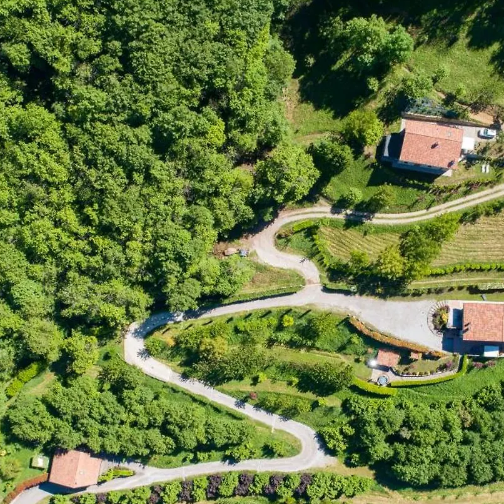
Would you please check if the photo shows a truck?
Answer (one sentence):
No, the picture doesn't show any truck.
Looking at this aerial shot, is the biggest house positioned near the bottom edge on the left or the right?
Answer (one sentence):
The biggest house positioned near the bottom edge appears in the left half of the scene.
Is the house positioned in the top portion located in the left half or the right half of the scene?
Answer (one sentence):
The house positioned in the top portion sits on the right side.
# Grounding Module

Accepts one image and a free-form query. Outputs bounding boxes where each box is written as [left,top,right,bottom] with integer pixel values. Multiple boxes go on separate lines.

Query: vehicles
[239,250,248,256]
[481,129,497,137]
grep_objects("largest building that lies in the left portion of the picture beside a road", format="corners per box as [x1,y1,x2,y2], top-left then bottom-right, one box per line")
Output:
[48,451,102,489]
